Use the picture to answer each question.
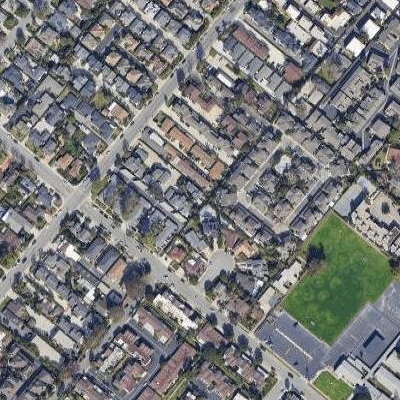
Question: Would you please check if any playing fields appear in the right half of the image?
Yes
